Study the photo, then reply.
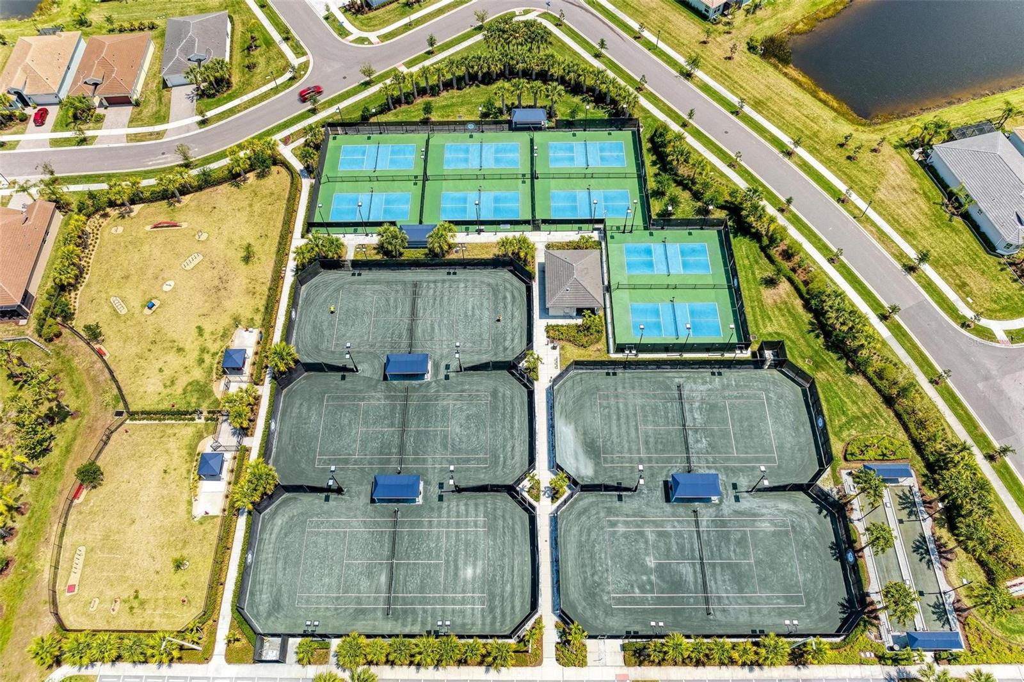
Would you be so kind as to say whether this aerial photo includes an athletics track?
No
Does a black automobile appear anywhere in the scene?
No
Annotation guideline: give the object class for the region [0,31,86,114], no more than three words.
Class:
house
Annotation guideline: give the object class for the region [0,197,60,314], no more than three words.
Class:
house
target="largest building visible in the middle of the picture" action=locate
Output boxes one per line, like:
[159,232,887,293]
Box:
[544,250,604,315]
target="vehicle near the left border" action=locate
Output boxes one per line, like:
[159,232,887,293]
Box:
[29,108,47,127]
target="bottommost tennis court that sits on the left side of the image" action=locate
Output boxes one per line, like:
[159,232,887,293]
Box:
[244,491,536,632]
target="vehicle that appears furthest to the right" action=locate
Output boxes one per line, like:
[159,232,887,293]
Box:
[297,85,323,102]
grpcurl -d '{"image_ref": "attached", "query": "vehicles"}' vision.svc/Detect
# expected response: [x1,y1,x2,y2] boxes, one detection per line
[297,85,323,102]
[29,108,47,127]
